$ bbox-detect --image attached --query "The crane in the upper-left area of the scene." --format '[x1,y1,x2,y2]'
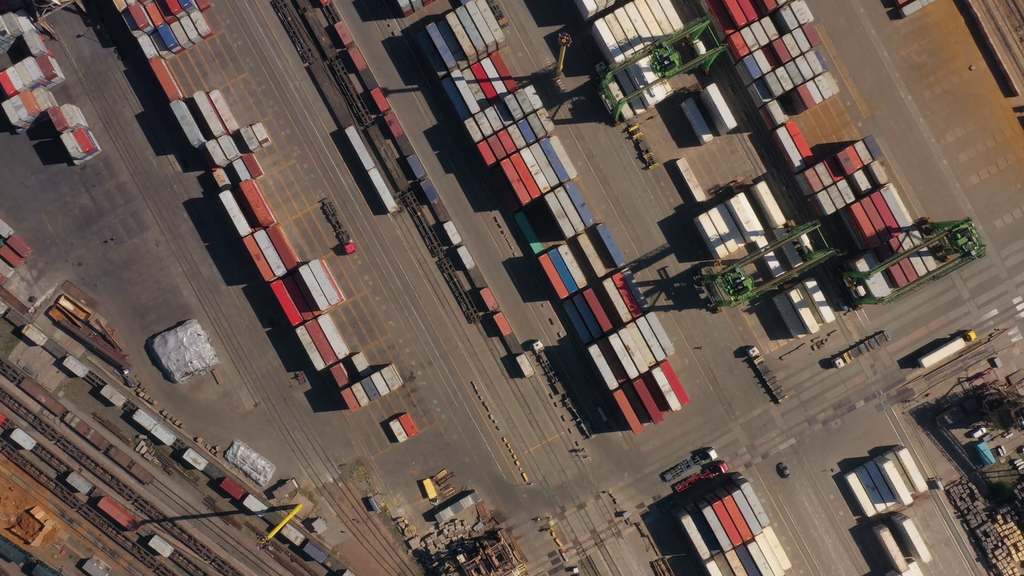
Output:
[33,0,88,44]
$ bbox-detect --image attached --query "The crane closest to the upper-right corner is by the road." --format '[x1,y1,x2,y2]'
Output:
[838,216,996,313]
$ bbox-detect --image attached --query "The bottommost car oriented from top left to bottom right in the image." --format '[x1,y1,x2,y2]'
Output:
[777,462,792,479]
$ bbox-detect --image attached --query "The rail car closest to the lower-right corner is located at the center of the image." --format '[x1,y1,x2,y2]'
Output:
[494,310,537,378]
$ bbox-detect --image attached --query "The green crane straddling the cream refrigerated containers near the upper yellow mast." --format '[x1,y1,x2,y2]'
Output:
[594,14,724,125]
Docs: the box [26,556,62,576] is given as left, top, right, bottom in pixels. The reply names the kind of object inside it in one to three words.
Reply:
rail car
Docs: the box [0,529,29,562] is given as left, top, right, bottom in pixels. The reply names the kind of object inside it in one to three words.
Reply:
rail car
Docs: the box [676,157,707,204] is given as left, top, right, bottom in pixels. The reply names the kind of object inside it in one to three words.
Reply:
shipping container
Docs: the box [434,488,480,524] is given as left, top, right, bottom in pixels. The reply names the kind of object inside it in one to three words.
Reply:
shed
